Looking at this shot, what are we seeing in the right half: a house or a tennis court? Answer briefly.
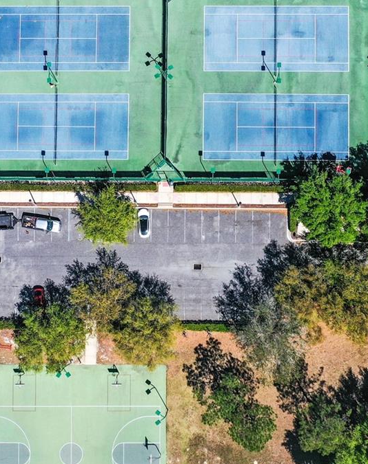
tennis court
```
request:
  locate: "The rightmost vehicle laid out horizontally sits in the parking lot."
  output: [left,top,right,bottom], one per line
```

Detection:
[23,214,59,231]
